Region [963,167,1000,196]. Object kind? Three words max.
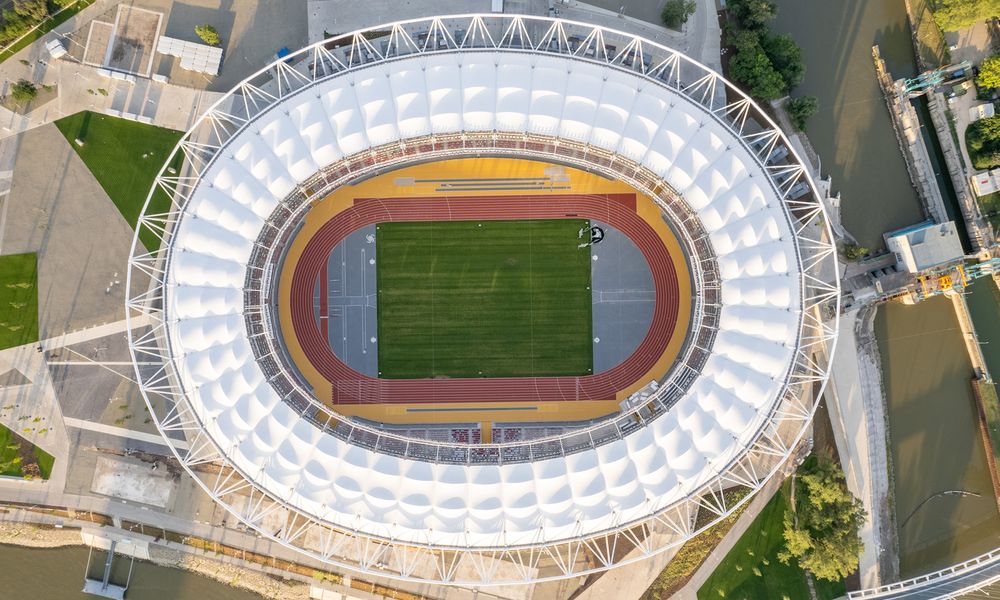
house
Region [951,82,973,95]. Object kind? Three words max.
vehicle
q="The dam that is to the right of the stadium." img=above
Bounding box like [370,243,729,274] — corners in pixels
[843,254,960,312]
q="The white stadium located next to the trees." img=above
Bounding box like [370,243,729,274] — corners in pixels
[127,14,841,583]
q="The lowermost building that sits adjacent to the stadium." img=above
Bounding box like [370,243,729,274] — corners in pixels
[873,216,965,274]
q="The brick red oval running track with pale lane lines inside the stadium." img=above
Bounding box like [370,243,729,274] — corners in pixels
[289,193,680,405]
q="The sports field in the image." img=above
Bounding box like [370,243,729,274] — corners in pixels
[376,219,593,379]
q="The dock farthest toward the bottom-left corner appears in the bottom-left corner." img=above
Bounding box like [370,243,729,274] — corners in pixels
[83,537,135,600]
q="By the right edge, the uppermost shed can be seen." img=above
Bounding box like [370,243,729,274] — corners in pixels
[965,102,995,122]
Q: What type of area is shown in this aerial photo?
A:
sports ground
